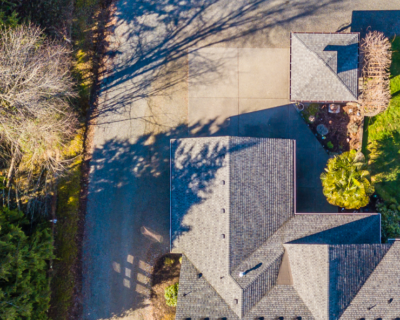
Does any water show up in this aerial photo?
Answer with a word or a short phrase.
No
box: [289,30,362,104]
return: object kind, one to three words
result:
shed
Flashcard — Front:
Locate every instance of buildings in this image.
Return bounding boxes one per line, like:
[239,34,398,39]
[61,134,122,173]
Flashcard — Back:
[289,30,362,104]
[168,136,400,320]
